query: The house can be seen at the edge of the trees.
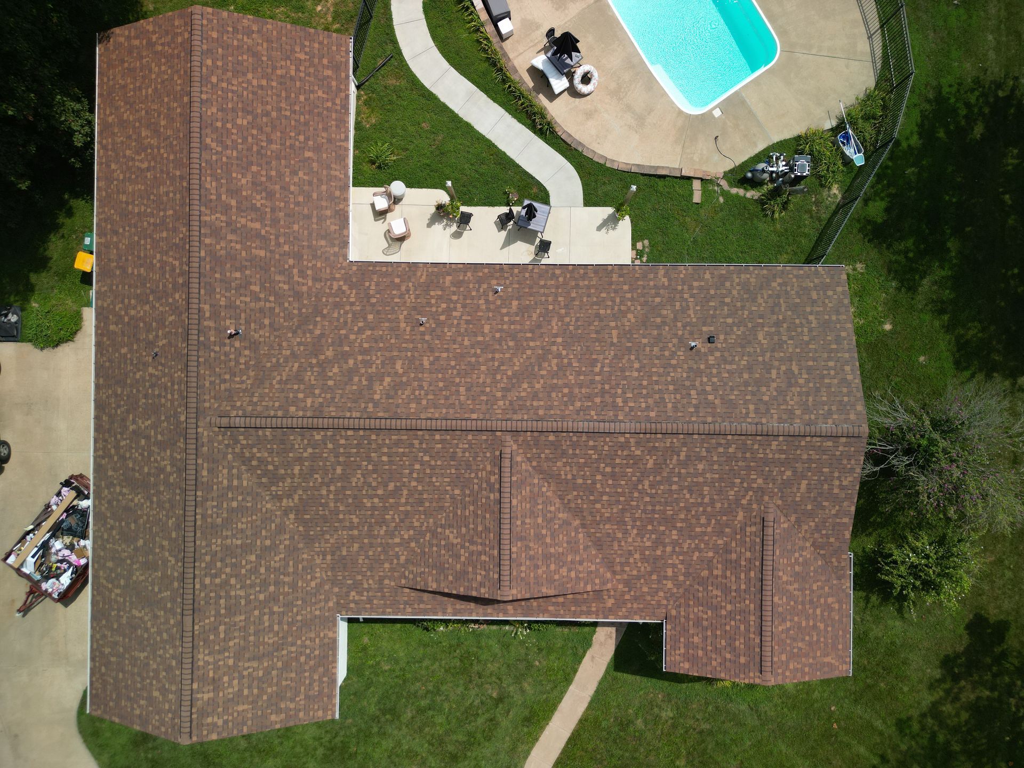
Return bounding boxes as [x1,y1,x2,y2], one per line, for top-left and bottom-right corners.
[88,6,869,744]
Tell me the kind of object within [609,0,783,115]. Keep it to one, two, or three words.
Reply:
swimming pool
